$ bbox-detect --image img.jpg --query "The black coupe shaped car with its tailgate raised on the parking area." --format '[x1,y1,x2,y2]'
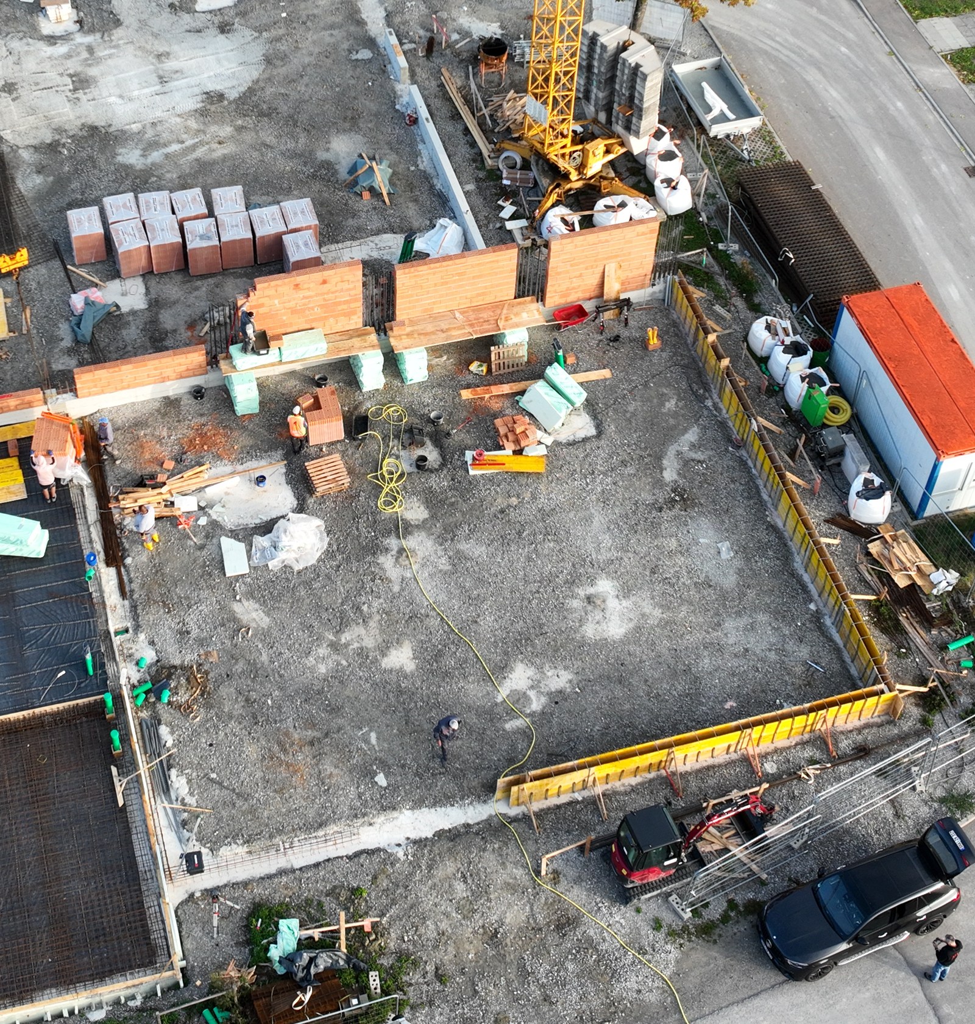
[755,811,975,978]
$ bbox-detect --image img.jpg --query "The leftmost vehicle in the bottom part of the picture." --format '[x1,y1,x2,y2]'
[600,791,774,909]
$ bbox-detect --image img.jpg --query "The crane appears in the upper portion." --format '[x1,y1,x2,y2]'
[489,0,641,233]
